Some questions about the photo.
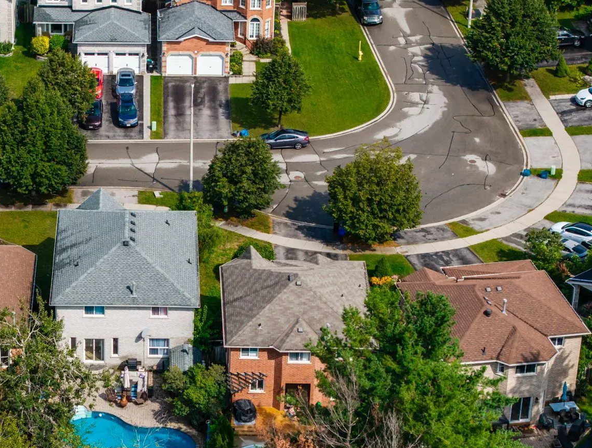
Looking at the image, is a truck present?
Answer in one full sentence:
No, no truck can be seen from above.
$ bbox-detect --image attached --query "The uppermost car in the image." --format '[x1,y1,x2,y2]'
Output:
[357,0,382,23]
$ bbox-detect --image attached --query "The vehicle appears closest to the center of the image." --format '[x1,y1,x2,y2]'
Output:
[258,125,312,149]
